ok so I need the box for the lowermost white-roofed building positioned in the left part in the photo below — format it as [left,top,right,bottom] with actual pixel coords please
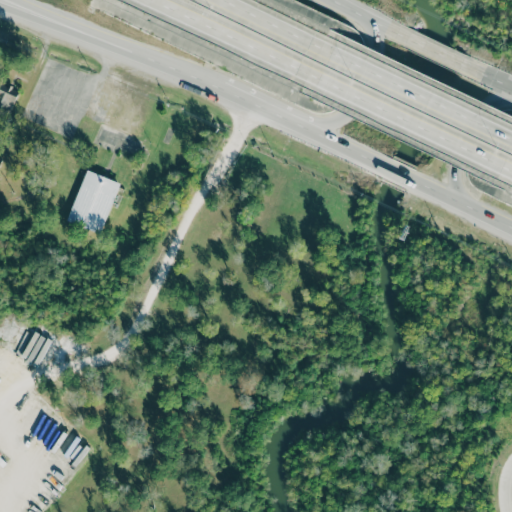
[68,172,120,235]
